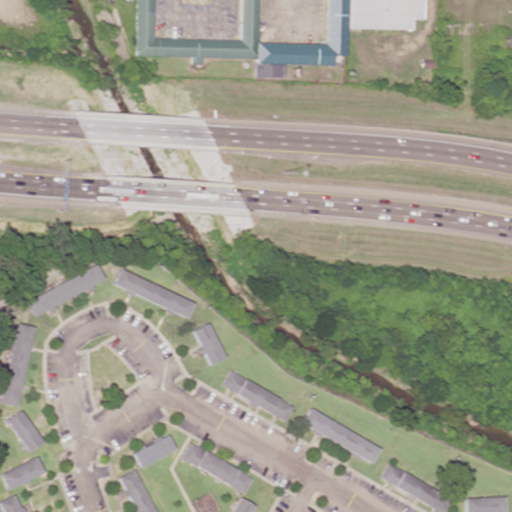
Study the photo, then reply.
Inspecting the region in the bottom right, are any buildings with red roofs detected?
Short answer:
No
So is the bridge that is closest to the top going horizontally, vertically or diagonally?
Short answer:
horizontally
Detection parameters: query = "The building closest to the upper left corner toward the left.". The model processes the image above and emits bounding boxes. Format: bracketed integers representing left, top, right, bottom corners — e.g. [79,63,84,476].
[136,0,258,65]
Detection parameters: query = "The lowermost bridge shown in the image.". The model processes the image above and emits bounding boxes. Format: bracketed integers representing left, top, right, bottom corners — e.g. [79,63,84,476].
[108,174,253,218]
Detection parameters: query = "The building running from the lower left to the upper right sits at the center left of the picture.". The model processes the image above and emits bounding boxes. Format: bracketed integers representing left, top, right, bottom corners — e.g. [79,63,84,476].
[28,263,106,318]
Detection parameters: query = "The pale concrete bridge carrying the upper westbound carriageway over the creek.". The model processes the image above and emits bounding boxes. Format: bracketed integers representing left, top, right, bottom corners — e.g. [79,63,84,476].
[72,110,220,152]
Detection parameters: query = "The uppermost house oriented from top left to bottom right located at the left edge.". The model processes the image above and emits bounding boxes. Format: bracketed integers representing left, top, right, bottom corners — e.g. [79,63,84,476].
[7,410,43,452]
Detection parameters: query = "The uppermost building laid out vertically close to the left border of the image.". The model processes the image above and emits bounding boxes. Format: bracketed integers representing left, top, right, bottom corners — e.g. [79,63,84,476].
[0,322,36,406]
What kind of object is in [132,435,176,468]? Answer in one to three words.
house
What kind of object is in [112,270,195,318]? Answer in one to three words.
house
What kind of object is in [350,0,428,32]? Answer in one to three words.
building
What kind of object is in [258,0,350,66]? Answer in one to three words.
building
